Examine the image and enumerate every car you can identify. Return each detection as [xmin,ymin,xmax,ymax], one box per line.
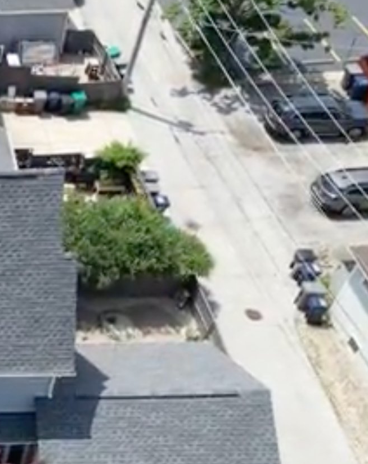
[308,171,368,219]
[263,97,368,139]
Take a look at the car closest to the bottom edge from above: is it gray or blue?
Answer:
gray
